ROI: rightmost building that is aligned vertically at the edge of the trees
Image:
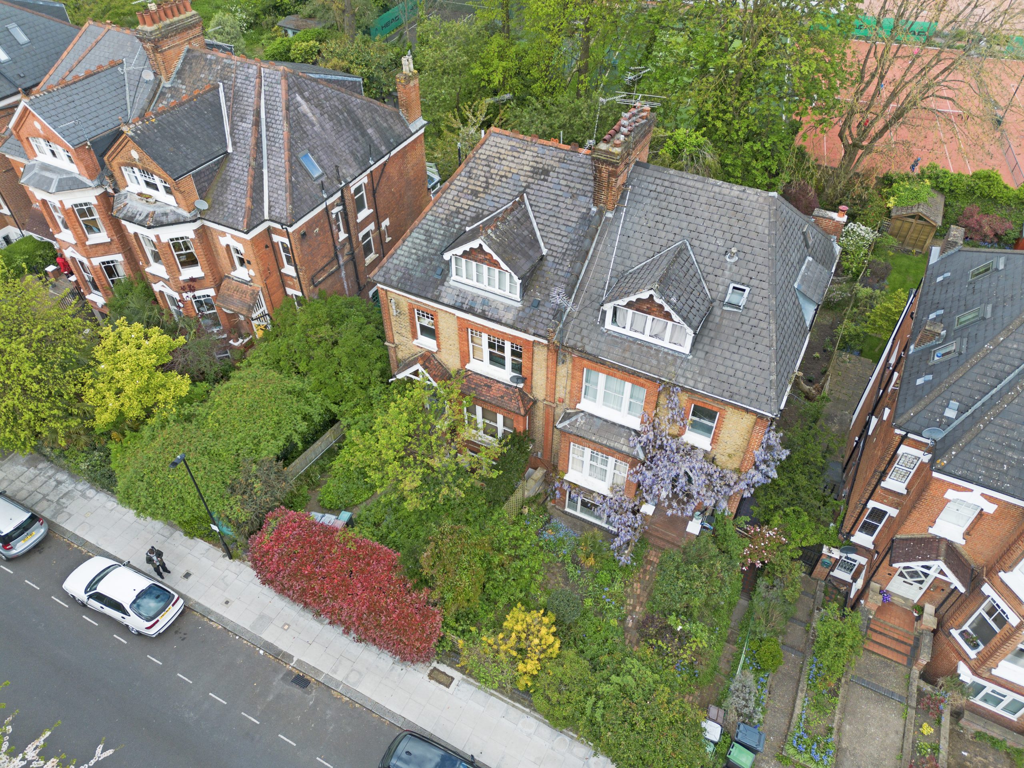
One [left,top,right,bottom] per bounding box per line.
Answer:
[807,225,1024,705]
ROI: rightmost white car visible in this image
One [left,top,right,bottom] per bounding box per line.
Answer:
[65,557,190,645]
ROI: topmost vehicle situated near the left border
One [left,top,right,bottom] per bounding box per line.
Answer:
[0,495,52,561]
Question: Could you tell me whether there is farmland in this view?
No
